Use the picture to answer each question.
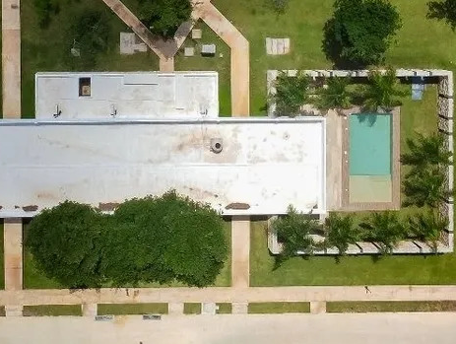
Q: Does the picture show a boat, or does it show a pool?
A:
pool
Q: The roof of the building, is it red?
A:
No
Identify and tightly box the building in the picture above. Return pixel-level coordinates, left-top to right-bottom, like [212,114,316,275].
[0,69,327,218]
